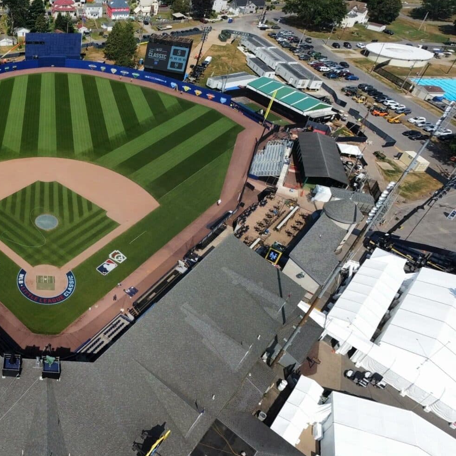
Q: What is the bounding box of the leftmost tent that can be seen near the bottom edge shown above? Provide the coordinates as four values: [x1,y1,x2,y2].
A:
[264,375,324,451]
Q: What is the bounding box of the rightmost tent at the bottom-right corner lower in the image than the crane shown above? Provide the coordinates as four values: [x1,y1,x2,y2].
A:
[414,385,456,429]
